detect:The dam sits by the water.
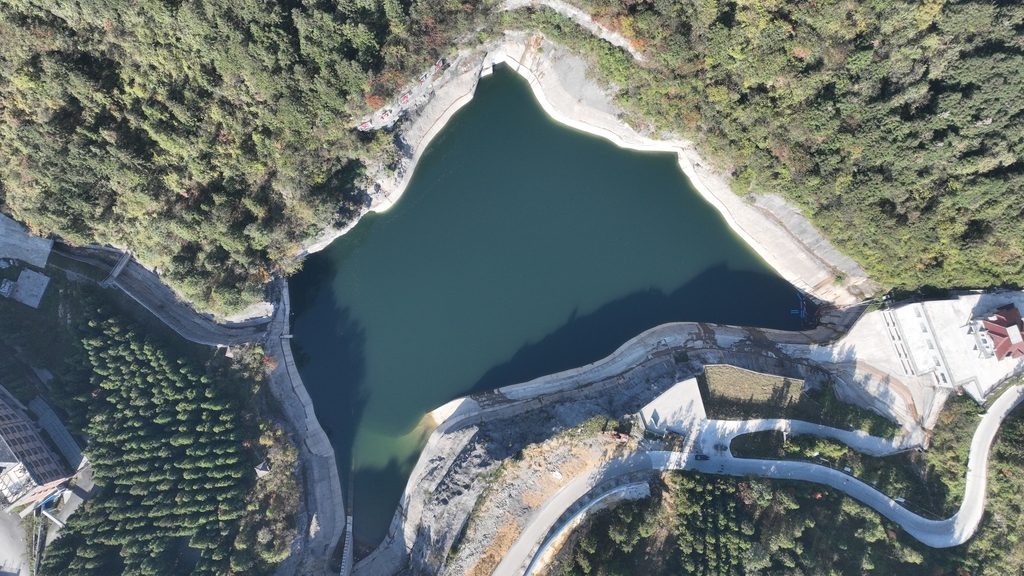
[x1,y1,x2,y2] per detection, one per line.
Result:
[271,278,344,576]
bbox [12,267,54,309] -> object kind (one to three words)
house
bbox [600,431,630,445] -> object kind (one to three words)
work vehicle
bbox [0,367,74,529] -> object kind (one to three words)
building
